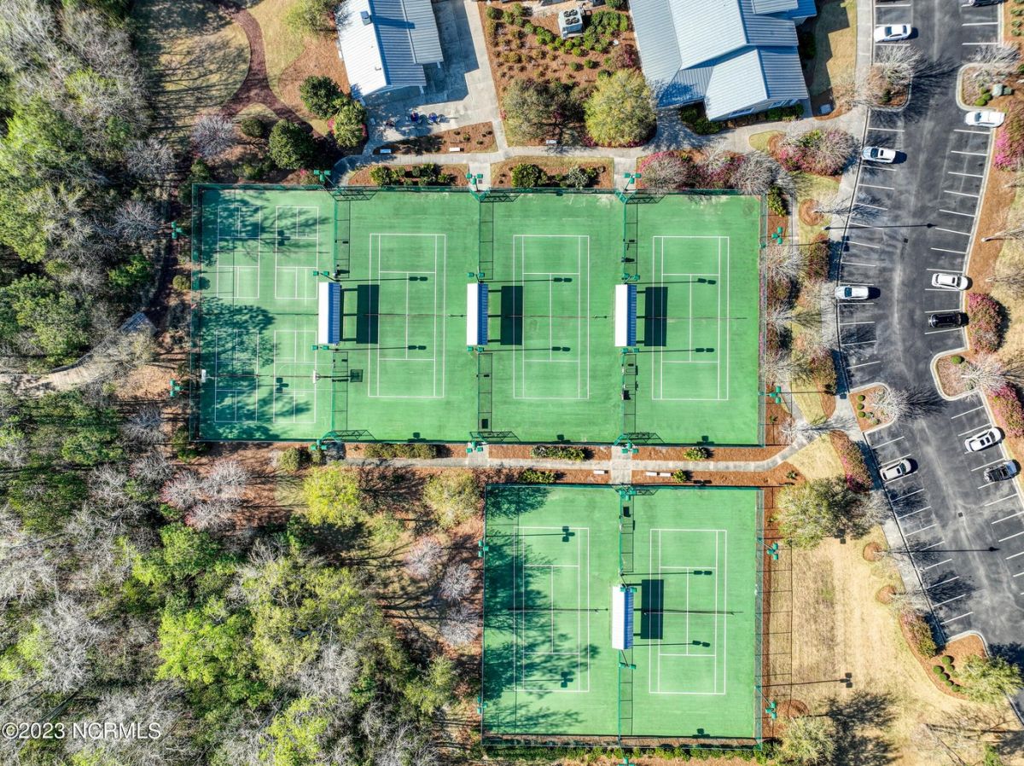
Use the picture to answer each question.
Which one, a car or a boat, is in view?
car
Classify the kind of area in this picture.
sports ground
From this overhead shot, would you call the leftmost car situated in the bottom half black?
No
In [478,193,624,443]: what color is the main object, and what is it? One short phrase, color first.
green tennis court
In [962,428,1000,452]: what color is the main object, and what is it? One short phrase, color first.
white car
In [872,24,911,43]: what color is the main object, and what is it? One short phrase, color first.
white car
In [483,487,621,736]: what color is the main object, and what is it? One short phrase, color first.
green tennis court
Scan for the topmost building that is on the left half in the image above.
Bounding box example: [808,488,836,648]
[330,0,444,107]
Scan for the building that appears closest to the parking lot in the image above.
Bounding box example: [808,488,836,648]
[631,0,816,125]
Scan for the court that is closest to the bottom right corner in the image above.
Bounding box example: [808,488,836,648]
[619,488,757,738]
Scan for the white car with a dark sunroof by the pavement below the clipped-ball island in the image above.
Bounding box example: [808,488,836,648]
[876,458,911,481]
